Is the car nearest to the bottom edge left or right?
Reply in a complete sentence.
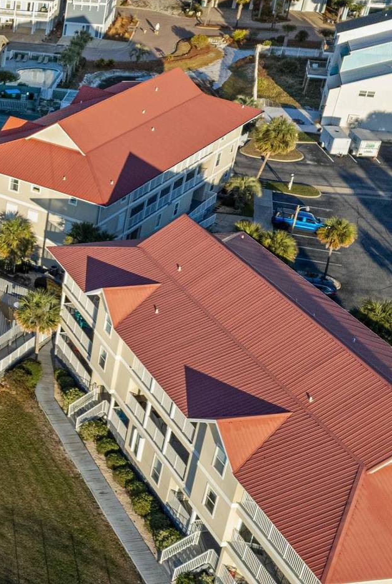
The car nearest to the bottom edge is on the right side of the image.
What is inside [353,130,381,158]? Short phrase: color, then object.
white trailer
